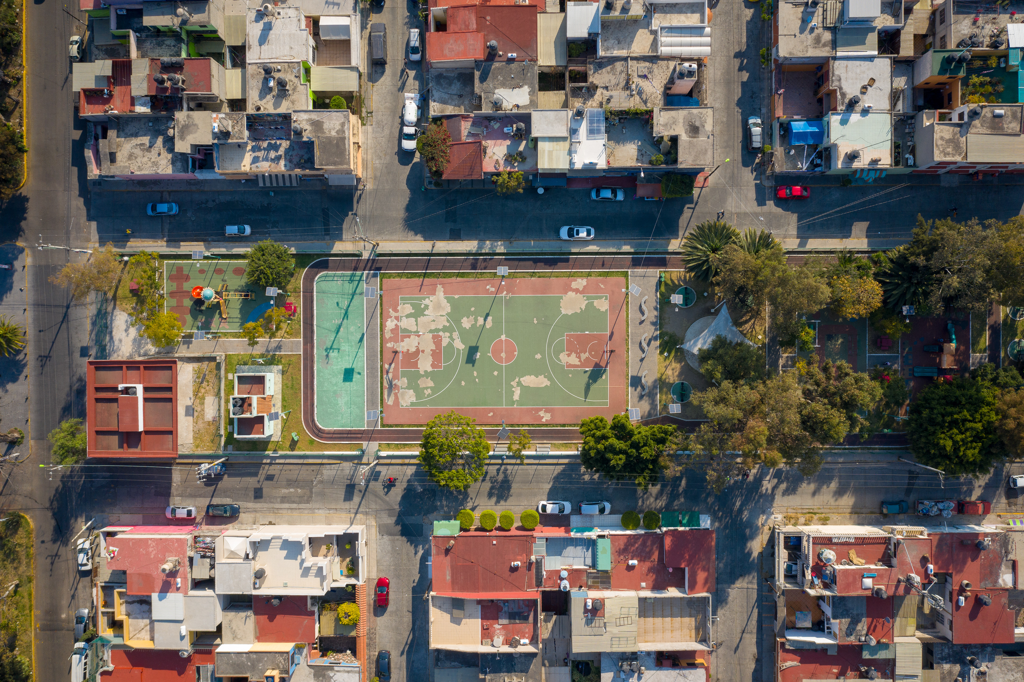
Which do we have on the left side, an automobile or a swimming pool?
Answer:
automobile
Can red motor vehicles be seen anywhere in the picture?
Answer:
Yes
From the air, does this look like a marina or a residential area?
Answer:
residential area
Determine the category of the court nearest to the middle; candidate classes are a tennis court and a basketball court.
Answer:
basketball court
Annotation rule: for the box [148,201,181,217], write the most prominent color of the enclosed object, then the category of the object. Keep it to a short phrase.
blue car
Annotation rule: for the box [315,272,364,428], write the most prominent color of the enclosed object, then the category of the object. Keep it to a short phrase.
green sports court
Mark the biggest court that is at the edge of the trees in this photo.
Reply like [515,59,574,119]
[382,279,626,424]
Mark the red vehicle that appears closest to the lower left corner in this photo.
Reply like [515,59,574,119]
[375,575,391,607]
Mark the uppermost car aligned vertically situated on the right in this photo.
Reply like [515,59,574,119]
[745,117,763,153]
